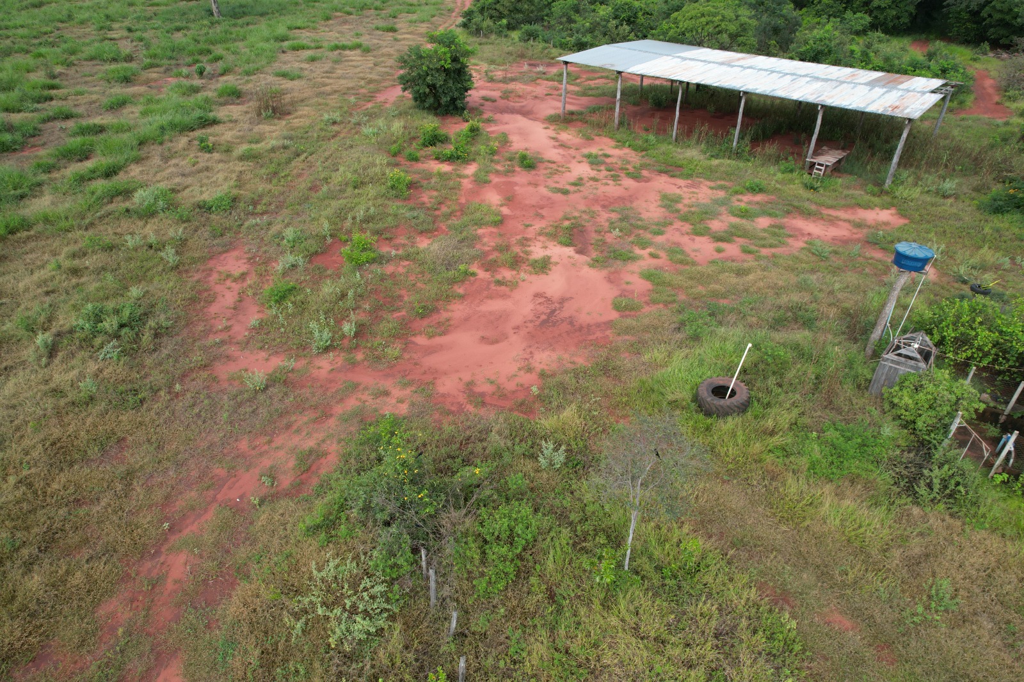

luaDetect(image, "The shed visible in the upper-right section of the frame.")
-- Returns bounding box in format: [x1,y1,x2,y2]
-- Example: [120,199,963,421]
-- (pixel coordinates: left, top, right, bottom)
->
[556,39,959,185]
